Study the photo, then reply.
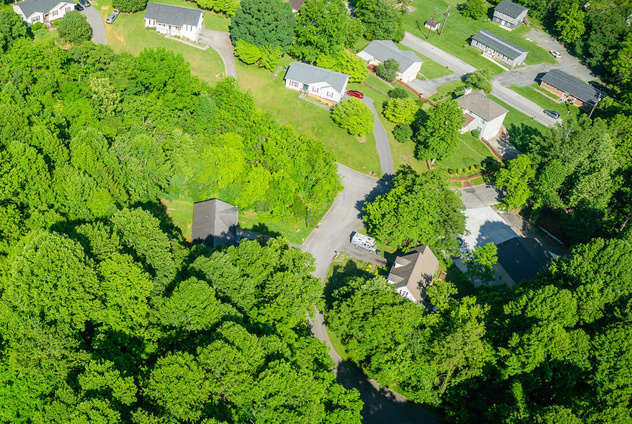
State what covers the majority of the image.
trees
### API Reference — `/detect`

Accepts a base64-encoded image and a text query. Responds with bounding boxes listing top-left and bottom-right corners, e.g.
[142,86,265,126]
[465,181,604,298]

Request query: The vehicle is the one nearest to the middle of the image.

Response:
[350,231,378,252]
